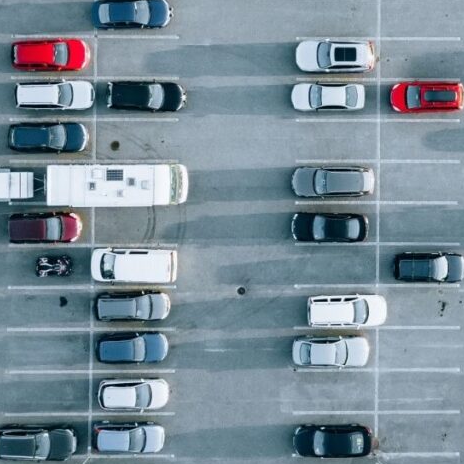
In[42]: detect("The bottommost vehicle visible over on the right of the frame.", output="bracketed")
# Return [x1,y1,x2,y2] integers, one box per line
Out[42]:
[293,421,373,462]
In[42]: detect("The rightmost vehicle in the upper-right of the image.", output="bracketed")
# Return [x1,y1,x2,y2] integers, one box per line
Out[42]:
[390,78,464,115]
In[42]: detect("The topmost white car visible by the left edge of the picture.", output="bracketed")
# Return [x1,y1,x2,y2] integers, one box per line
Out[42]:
[14,77,96,112]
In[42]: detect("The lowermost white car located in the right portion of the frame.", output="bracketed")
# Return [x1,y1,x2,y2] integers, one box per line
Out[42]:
[291,334,369,371]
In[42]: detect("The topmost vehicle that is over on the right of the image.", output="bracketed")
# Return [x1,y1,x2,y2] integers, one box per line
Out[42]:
[295,37,375,74]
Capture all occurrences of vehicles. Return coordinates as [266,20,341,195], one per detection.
[6,210,83,247]
[292,163,375,200]
[295,37,375,74]
[94,290,171,326]
[91,0,173,31]
[293,421,373,462]
[98,377,170,415]
[105,78,186,114]
[6,119,89,155]
[395,250,464,286]
[292,210,369,246]
[14,77,96,112]
[291,80,366,114]
[0,423,78,464]
[38,254,73,275]
[390,78,464,115]
[307,293,388,332]
[47,162,191,208]
[291,334,369,371]
[91,247,177,286]
[95,331,169,367]
[93,420,165,458]
[11,35,91,72]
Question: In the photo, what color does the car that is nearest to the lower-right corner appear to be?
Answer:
black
